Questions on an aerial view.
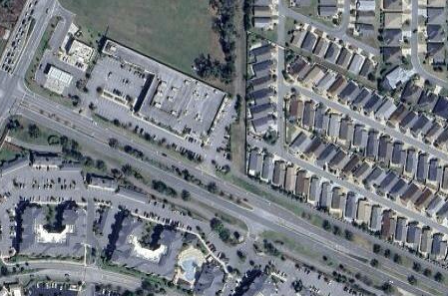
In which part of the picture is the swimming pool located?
bottom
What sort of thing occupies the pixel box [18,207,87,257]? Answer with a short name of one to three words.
building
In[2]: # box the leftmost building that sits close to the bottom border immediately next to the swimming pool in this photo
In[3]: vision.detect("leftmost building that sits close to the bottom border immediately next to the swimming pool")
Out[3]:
[108,217,183,282]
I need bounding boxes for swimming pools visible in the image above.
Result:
[177,247,203,287]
